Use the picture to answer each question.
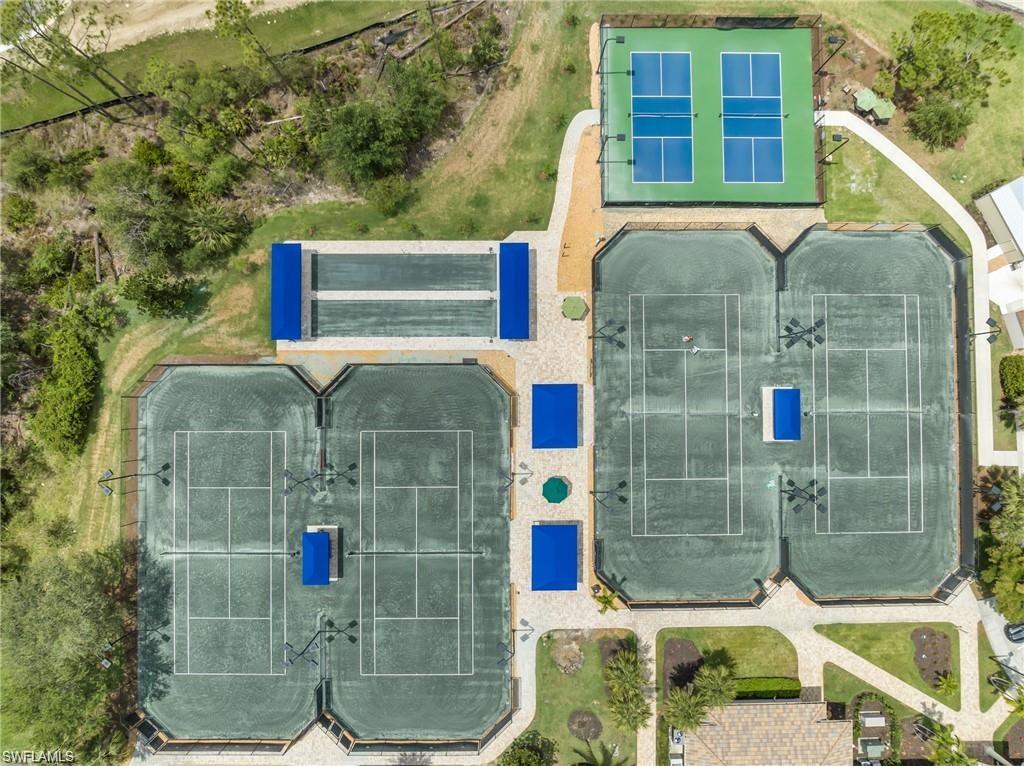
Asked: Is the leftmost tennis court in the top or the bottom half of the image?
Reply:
bottom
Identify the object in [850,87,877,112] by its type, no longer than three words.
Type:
umbrella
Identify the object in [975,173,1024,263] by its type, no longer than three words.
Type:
building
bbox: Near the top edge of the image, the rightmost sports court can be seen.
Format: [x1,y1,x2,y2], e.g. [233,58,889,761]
[707,27,818,201]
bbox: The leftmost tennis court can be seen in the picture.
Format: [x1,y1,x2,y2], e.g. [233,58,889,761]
[138,366,322,739]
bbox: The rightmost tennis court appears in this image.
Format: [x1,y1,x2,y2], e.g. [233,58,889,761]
[777,231,959,599]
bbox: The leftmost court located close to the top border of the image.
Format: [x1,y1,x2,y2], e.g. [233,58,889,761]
[600,27,709,205]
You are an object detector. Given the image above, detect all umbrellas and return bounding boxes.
[870,97,896,121]
[850,87,877,112]
[561,295,587,320]
[543,476,568,502]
